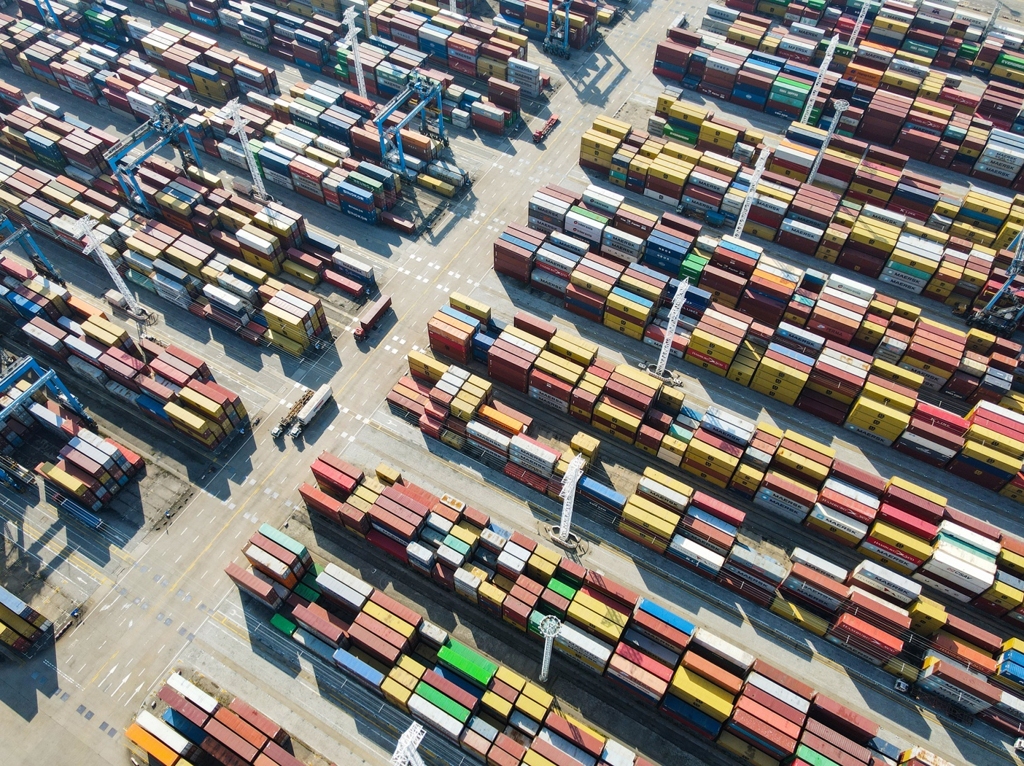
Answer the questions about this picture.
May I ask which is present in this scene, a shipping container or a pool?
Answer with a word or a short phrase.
shipping container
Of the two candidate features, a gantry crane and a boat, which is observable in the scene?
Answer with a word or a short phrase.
gantry crane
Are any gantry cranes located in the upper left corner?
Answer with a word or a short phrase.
Yes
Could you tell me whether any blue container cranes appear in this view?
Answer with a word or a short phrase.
Yes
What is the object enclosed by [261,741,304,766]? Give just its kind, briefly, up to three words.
shipping container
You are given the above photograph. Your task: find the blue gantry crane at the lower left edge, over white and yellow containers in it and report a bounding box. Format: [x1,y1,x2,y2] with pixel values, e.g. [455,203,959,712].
[0,347,98,491]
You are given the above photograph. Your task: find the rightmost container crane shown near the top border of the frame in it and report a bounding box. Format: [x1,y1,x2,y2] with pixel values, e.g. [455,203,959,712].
[538,0,573,57]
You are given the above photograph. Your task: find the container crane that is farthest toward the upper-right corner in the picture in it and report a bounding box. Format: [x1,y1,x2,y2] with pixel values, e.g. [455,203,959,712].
[967,228,1024,345]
